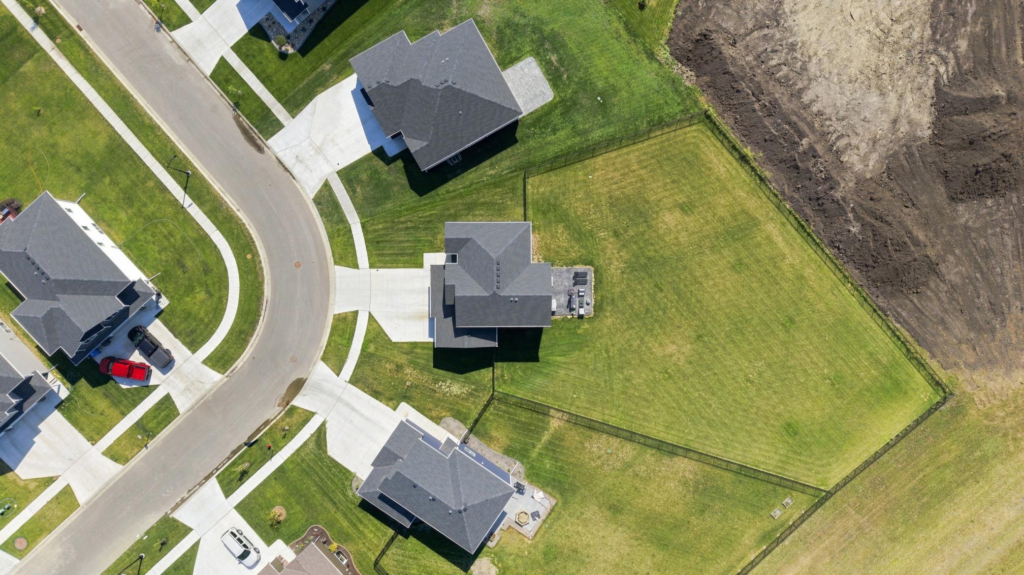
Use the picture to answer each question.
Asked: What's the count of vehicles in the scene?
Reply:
three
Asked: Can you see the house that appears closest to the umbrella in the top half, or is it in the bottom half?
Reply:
bottom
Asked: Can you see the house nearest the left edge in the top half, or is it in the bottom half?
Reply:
bottom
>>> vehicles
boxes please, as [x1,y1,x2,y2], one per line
[126,325,176,370]
[100,356,155,381]
[220,528,261,570]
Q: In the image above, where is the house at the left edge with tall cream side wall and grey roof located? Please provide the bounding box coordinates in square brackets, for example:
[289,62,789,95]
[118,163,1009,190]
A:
[0,320,59,437]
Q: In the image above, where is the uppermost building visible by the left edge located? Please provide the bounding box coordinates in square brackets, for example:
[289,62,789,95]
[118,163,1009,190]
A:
[0,190,161,367]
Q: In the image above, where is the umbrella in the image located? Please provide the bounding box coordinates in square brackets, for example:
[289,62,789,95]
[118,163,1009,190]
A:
[528,492,552,517]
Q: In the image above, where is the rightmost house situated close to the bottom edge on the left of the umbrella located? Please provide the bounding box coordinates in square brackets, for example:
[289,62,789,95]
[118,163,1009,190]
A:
[355,419,518,555]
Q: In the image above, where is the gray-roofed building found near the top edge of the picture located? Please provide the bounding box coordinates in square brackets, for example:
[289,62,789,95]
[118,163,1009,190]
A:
[348,18,524,176]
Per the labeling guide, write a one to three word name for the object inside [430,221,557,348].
house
